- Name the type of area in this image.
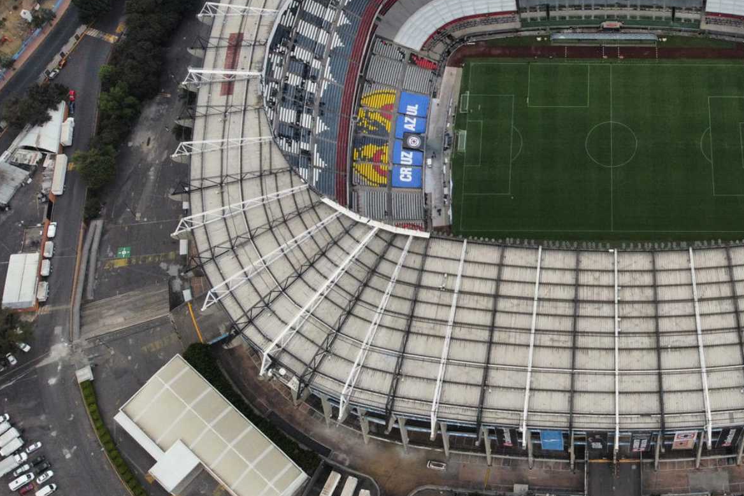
sports ground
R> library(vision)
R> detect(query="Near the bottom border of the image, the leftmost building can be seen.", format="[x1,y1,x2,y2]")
[113,354,315,496]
